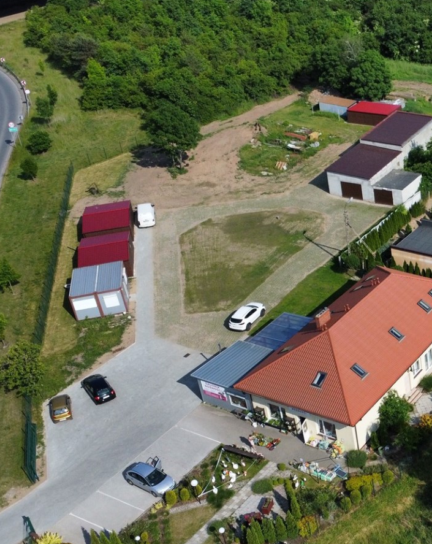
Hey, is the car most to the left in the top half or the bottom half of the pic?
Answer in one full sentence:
Seen from above, the car most to the left lies in the bottom half of the view.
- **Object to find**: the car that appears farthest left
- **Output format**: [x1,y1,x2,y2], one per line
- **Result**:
[45,390,76,426]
